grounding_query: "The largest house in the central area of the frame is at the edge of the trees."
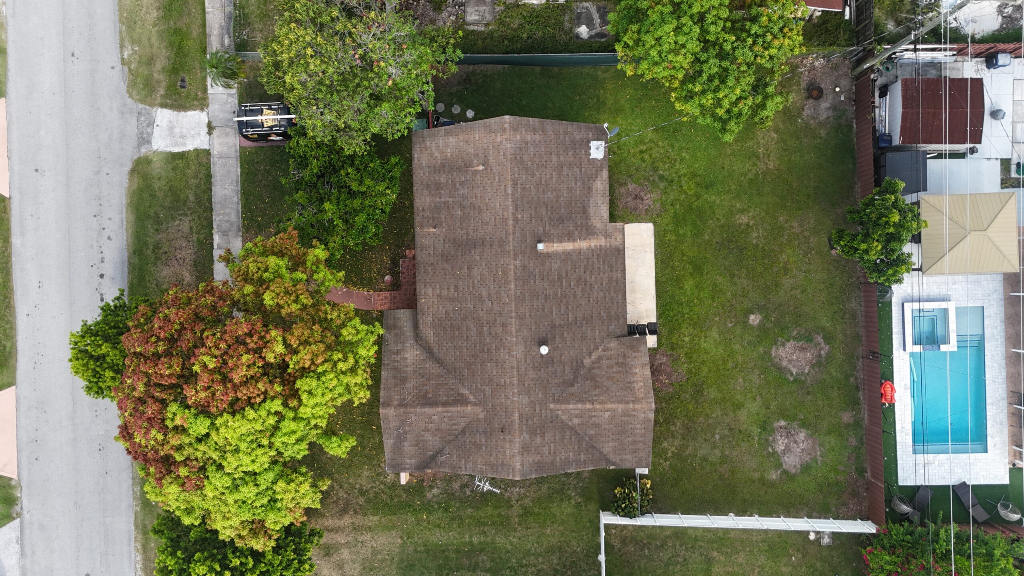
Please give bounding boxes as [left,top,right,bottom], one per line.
[379,116,655,484]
